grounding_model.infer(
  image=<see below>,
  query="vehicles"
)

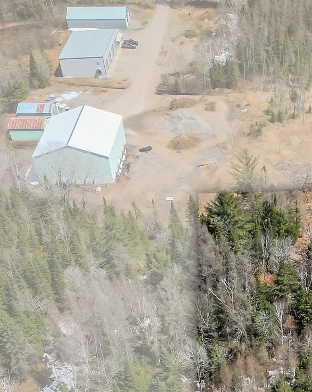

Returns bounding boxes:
[127,39,138,45]
[122,42,135,49]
